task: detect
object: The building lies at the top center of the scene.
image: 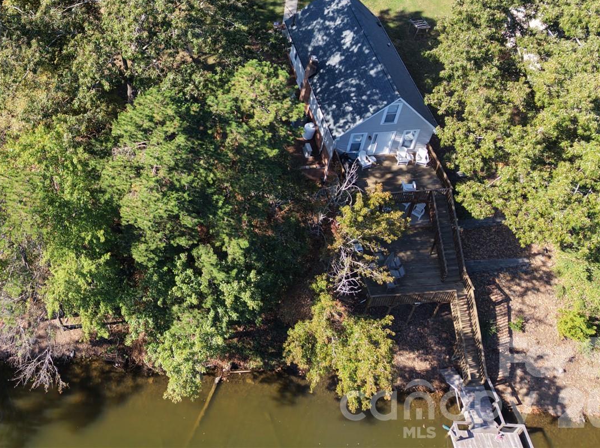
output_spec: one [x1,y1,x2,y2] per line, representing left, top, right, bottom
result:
[280,0,445,179]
